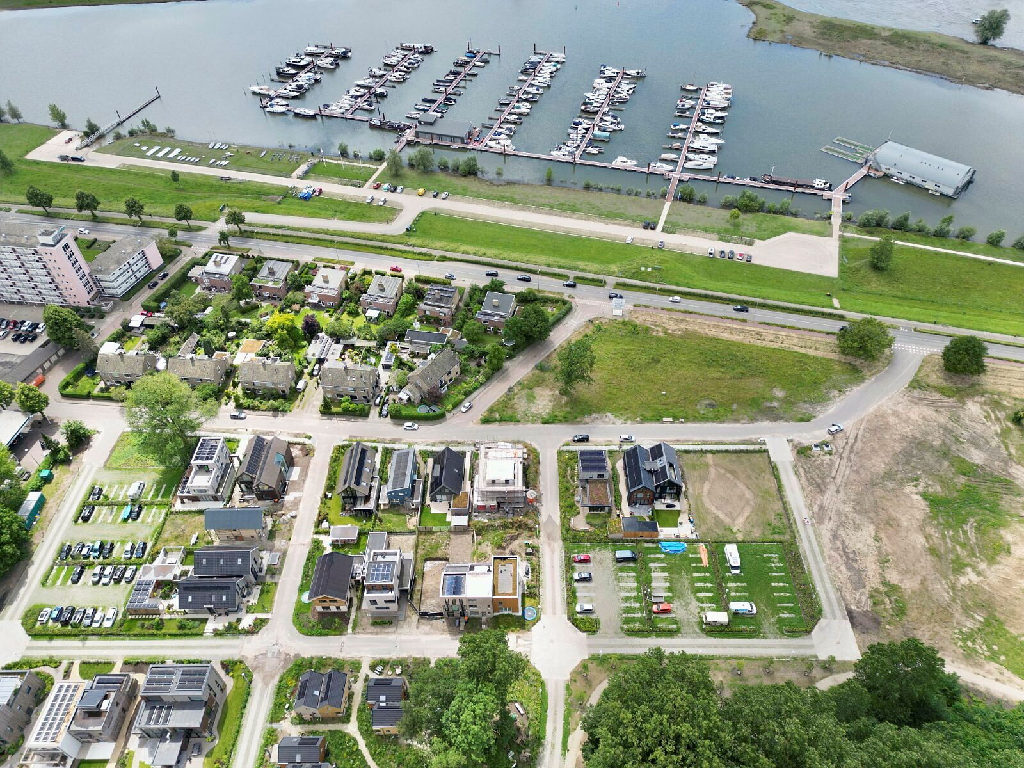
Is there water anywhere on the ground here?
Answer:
Yes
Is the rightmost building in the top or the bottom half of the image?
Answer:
top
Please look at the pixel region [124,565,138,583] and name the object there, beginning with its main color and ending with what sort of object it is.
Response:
white car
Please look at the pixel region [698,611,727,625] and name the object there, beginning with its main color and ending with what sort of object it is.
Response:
white camper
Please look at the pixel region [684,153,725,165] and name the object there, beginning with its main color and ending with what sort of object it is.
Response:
white boat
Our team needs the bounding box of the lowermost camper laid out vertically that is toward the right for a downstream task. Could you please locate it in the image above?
[726,539,740,576]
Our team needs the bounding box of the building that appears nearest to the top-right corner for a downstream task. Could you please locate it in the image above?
[867,136,972,202]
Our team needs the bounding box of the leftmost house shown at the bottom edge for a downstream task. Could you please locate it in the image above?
[0,651,51,748]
